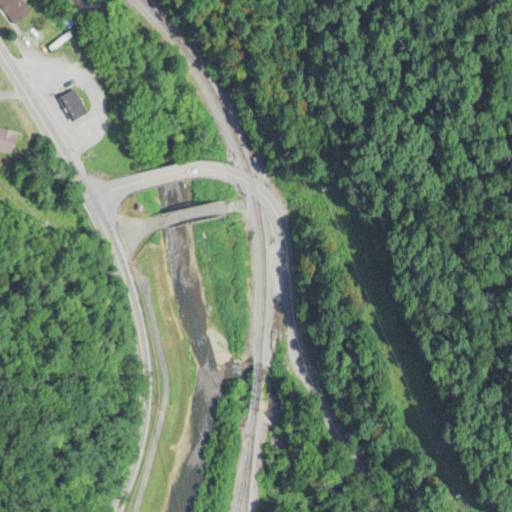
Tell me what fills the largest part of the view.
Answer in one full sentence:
The bulk of the photo consists of trees.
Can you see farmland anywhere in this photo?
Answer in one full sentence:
No, there is no farmland in the image.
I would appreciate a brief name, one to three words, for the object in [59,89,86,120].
building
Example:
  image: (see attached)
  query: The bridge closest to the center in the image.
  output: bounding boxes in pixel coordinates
[162,202,227,226]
